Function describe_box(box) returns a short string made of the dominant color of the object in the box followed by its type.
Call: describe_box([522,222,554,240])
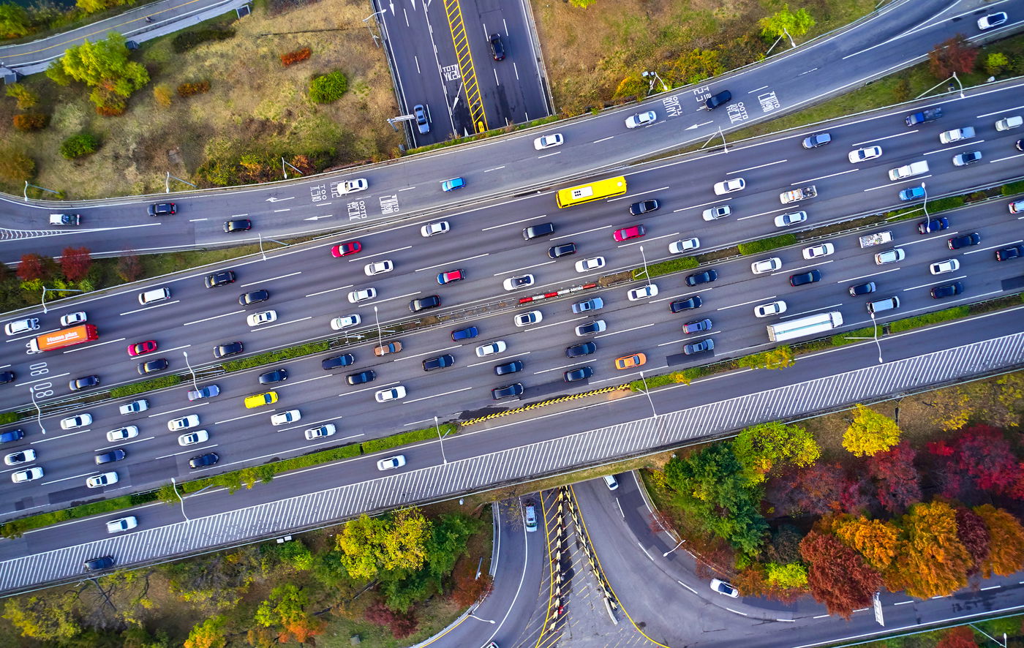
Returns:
black vehicle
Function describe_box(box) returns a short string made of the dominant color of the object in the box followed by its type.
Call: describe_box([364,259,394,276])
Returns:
white car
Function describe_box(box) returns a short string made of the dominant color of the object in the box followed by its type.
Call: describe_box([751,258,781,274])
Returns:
white car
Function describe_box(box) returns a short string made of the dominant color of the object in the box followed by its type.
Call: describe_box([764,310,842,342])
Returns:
white truck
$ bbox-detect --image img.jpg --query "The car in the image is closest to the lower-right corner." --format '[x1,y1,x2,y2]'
[710,578,739,597]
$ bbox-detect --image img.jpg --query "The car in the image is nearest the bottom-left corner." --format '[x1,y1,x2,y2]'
[84,554,115,572]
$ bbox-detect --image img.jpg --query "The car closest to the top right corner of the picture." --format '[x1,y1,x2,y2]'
[977,11,1008,30]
